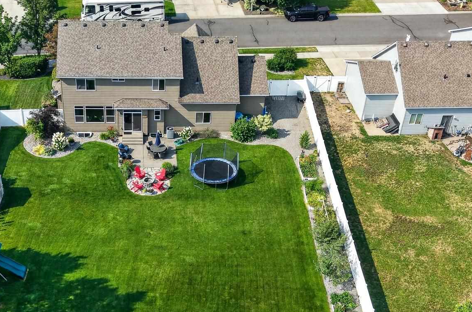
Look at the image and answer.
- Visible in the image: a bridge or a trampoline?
trampoline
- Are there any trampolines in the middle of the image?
Yes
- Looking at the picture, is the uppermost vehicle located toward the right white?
No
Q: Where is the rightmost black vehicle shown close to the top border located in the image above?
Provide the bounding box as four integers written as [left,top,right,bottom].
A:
[282,3,334,24]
